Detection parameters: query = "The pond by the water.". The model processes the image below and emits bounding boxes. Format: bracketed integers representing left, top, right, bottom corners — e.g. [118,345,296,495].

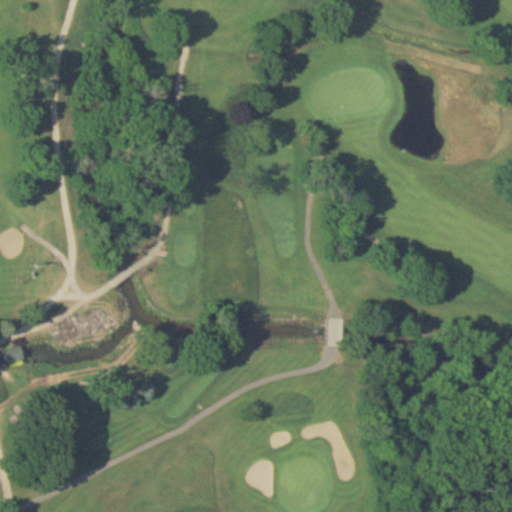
[390,60,443,158]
